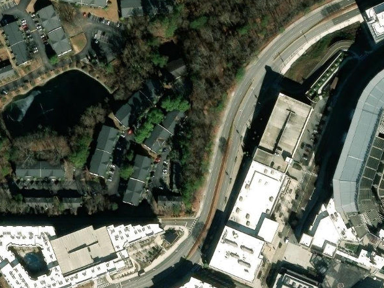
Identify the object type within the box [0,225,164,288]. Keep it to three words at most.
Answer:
building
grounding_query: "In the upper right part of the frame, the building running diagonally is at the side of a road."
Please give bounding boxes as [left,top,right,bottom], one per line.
[306,52,346,100]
